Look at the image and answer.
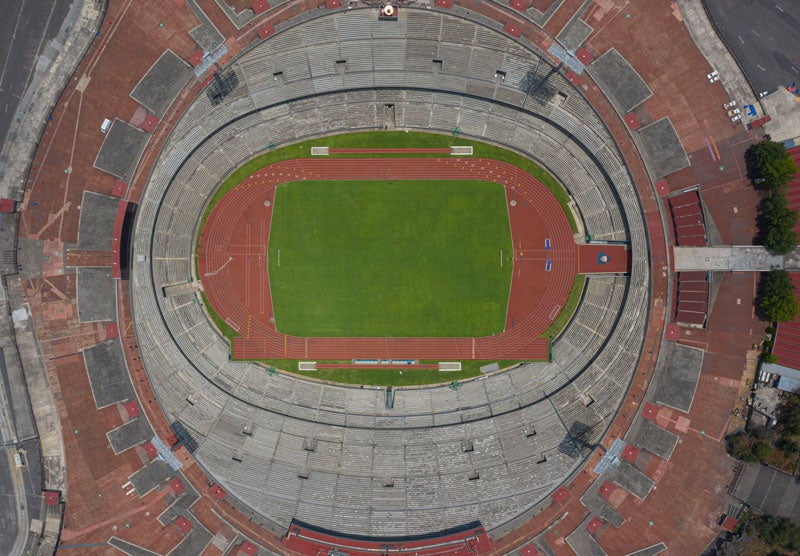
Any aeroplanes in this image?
No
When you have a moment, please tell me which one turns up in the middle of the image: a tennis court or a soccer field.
soccer field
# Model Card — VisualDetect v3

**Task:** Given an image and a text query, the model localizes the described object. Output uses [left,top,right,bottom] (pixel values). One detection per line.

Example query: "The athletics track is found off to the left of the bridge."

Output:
[200,159,581,359]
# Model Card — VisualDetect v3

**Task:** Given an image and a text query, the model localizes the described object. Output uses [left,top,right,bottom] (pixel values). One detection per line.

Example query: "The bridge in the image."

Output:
[673,246,800,272]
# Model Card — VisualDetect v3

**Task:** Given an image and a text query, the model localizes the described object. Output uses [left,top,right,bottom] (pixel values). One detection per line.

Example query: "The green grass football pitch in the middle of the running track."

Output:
[267,180,513,337]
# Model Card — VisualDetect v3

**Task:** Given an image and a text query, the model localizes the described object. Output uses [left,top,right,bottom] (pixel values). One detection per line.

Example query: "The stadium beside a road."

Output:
[112,6,652,556]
